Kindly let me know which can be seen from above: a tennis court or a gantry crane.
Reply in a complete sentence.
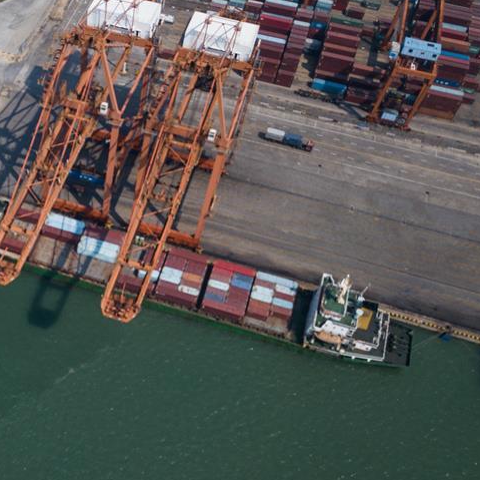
There is a gantry crane in the scene.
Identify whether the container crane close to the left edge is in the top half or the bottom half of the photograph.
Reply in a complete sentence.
The container crane close to the left edge sits in the top half of the picture.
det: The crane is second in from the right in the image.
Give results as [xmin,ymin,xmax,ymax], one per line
[110,11,268,319]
